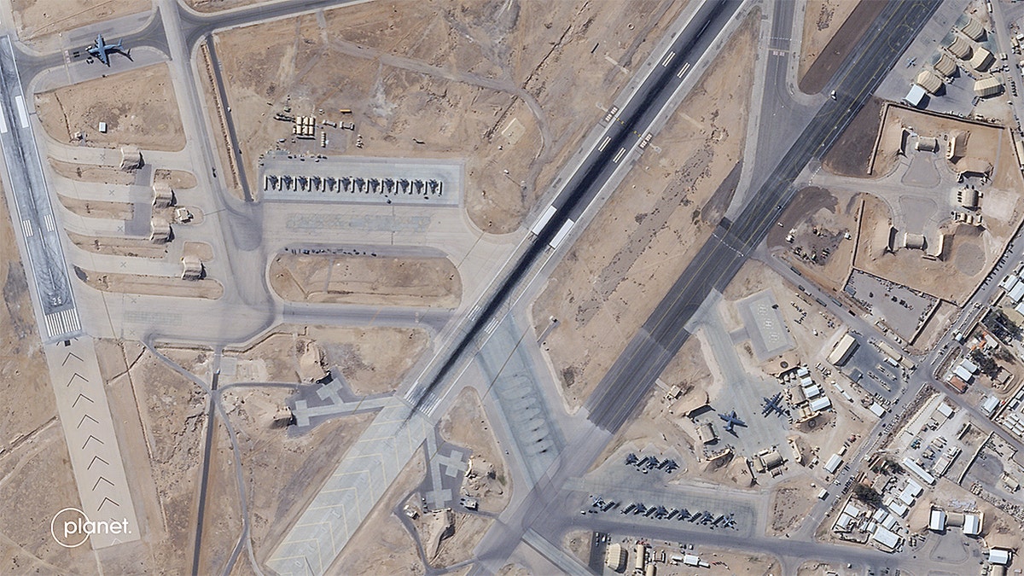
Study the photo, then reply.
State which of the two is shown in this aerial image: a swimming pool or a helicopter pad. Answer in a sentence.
Of the two, only a helicopter pad appears.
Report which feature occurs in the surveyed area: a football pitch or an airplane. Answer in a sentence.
This aerial view contains an airplane.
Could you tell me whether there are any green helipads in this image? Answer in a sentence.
No, I can see no green helipad in this picture.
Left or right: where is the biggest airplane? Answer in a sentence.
The biggest airplane appears in the left half of the scene.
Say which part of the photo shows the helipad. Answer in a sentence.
Look in the right portion of the view to spot the helipad.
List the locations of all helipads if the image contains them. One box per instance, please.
[731,288,796,360]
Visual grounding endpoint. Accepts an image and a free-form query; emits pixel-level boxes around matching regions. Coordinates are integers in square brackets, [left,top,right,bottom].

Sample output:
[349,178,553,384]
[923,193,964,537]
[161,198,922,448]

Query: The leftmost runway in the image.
[0,34,81,339]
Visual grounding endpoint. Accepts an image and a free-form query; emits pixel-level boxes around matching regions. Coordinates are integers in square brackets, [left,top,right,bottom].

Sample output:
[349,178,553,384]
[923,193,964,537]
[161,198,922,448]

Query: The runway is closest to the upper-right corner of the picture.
[401,0,744,420]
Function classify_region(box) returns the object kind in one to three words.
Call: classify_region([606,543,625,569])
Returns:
hangar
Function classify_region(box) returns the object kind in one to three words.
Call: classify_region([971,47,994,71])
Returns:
hangar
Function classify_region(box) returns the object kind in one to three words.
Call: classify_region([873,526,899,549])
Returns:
shed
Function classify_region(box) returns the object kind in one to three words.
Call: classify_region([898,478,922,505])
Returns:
building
